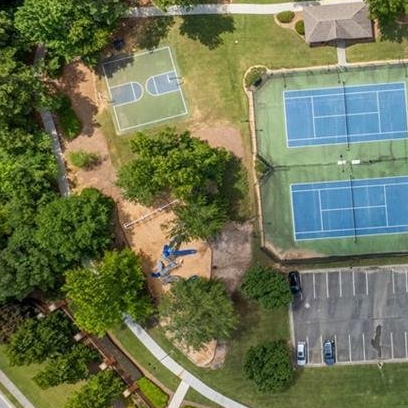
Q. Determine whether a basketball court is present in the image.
Yes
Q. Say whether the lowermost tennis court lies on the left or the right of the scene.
right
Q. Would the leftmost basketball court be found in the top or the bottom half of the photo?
top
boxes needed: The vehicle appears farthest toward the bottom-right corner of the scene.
[323,339,335,364]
